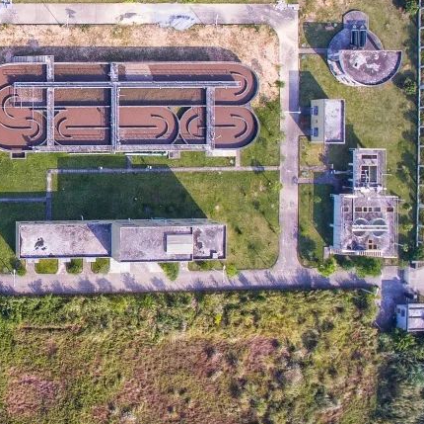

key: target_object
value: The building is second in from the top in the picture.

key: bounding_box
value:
[310,100,345,144]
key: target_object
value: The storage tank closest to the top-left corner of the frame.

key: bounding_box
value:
[0,55,259,158]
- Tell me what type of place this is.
industrial area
